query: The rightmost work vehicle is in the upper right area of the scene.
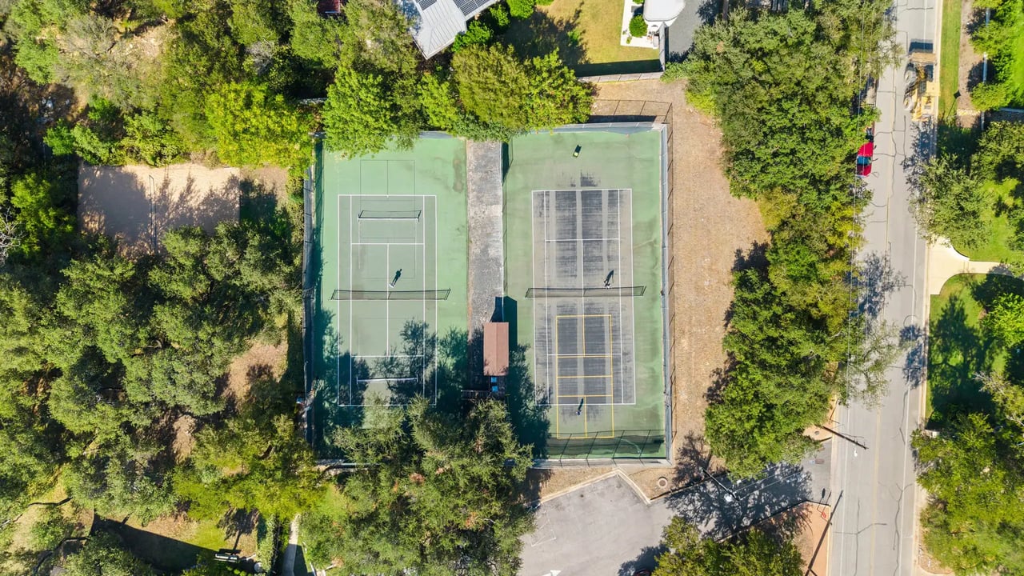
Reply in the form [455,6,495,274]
[904,49,940,116]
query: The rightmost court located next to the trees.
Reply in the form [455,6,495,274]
[503,128,666,459]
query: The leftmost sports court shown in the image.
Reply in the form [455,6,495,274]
[77,165,240,258]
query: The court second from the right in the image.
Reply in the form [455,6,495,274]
[313,131,466,460]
